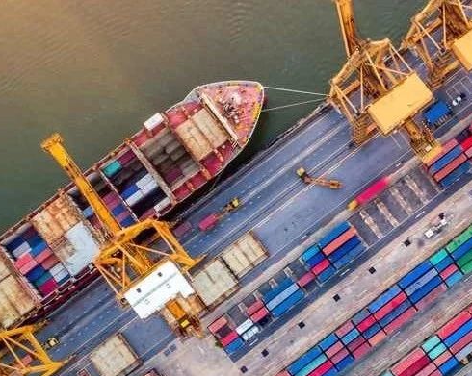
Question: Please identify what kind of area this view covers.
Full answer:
It's a port.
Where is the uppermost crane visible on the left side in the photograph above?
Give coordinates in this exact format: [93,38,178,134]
[36,126,219,343]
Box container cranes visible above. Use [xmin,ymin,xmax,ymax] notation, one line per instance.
[36,126,219,343]
[0,315,88,376]
[318,0,445,169]
[394,0,472,94]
